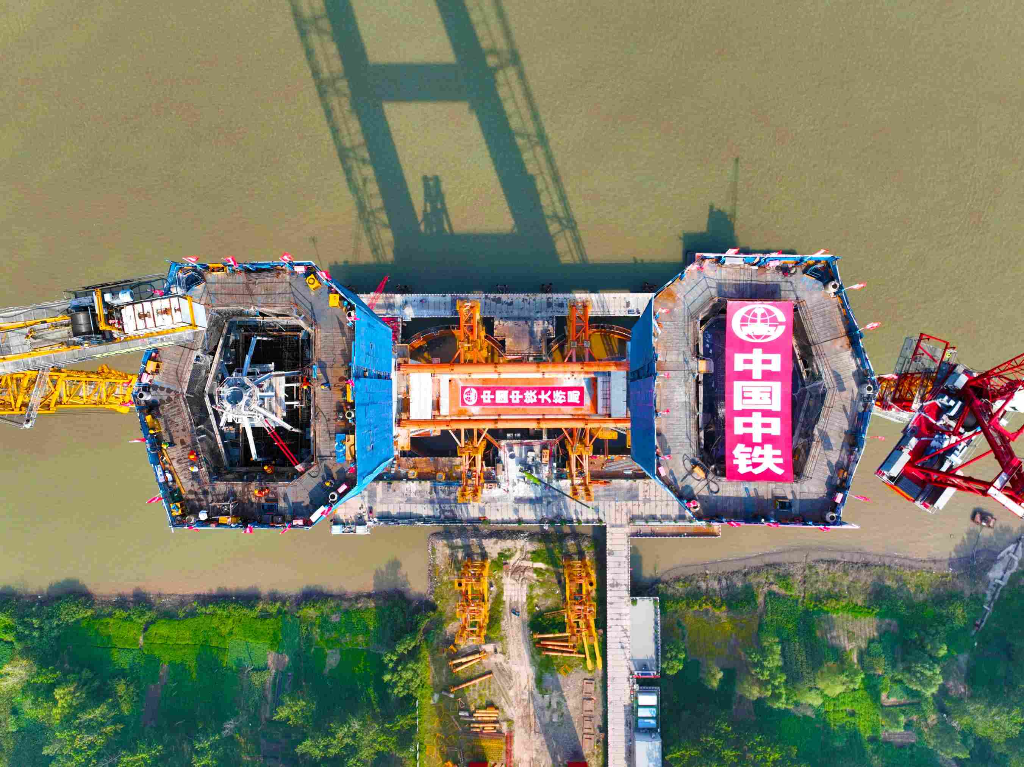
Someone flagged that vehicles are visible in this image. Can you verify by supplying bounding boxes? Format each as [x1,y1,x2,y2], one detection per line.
[508,608,523,620]
[516,460,594,510]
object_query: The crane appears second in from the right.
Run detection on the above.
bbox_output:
[367,274,398,343]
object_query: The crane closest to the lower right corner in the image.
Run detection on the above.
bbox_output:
[873,331,1024,524]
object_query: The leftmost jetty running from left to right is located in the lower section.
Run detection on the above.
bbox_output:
[629,525,721,538]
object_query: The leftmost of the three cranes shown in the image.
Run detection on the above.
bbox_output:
[0,268,211,434]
